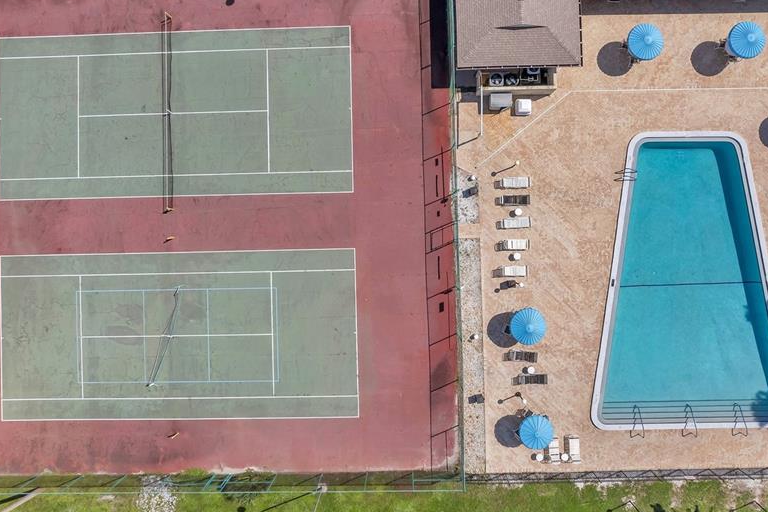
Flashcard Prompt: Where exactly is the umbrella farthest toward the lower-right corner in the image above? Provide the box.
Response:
[519,416,553,450]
